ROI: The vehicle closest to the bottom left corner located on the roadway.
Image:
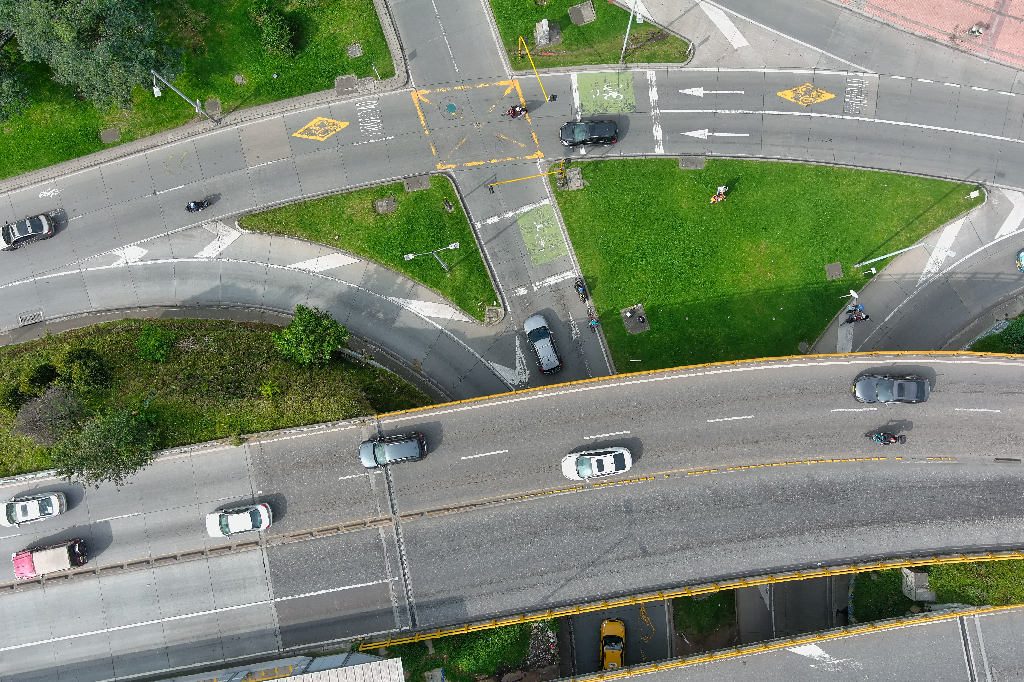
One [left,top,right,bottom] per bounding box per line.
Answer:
[17,539,91,581]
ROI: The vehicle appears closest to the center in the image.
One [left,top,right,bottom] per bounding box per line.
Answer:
[525,314,562,376]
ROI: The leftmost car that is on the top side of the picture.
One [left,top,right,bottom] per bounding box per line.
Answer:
[0,214,61,250]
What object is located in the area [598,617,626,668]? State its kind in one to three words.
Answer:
car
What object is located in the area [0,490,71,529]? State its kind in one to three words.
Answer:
car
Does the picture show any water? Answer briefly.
No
